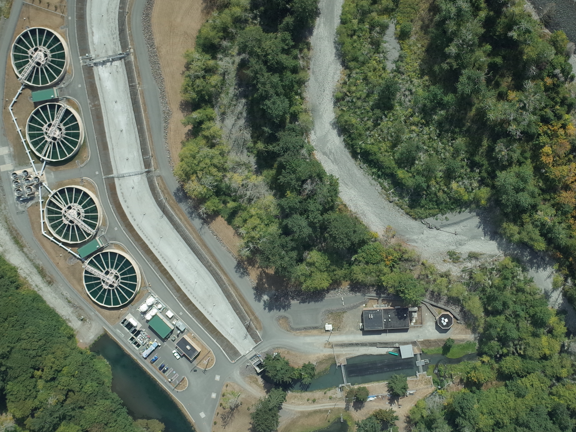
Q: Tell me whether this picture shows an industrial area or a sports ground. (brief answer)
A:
industrial area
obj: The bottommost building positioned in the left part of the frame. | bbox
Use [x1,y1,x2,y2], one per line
[175,337,200,360]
